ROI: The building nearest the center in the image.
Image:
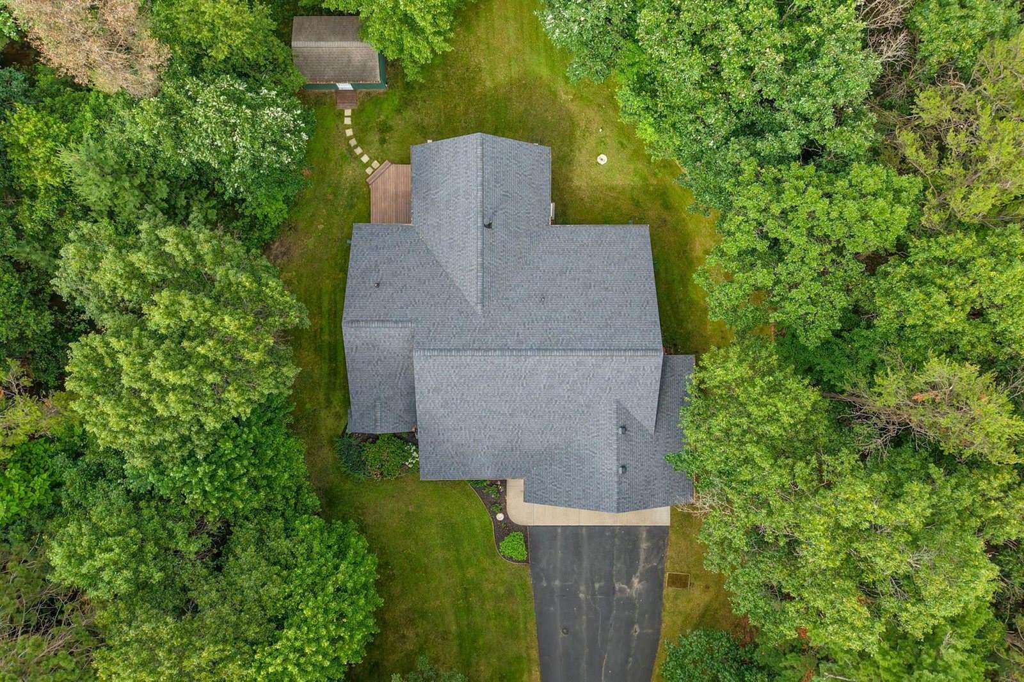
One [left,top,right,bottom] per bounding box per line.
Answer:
[344,133,697,513]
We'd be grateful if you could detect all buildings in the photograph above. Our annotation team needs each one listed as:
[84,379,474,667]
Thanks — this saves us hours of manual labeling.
[290,16,387,89]
[344,133,697,513]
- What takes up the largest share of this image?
trees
